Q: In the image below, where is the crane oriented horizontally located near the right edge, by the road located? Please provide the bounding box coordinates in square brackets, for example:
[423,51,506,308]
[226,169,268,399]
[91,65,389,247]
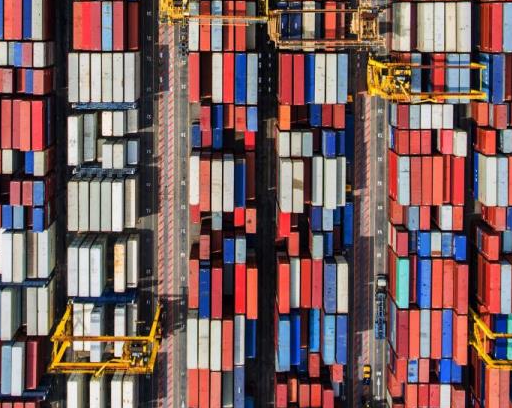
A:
[364,50,490,109]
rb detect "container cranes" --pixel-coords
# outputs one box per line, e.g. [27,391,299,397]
[50,294,169,390]
[364,50,490,109]
[161,0,271,29]
[465,291,512,368]
[264,1,383,50]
